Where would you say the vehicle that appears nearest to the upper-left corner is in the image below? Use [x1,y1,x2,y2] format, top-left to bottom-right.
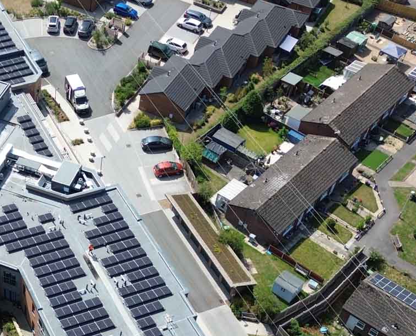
[48,14,60,33]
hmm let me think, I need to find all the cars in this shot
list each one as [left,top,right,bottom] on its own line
[160,38,188,54]
[141,138,173,154]
[48,14,60,33]
[176,19,205,35]
[154,164,184,178]
[64,14,77,33]
[185,11,211,28]
[31,50,49,72]
[146,42,175,61]
[80,19,94,36]
[114,6,137,19]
